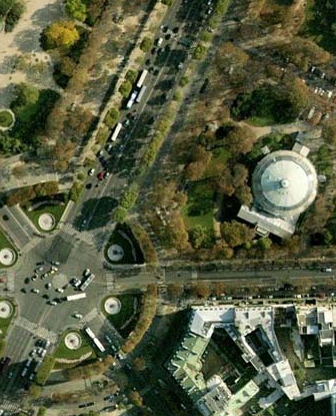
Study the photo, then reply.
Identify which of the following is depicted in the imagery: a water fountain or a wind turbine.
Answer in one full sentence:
Of the two, only a water fountain appears.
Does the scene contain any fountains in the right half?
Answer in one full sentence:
No, there is no fountain in the right half.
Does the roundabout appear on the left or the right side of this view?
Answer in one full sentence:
It is on the left.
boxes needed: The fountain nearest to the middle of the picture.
[107,243,125,262]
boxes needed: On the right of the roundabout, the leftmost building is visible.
[166,332,209,402]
